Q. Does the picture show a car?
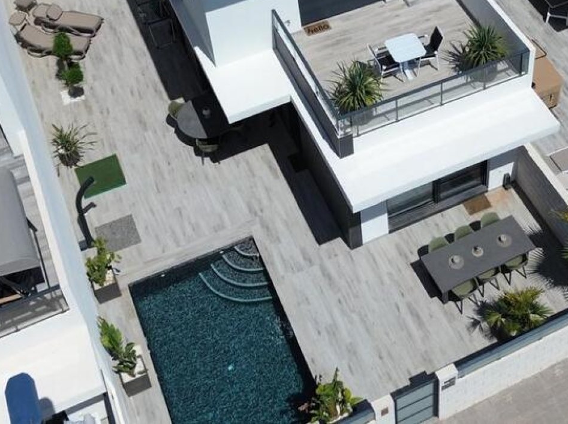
No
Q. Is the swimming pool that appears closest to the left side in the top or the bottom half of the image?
bottom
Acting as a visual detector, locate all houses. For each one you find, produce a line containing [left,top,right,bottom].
[0,0,120,424]
[160,0,560,250]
